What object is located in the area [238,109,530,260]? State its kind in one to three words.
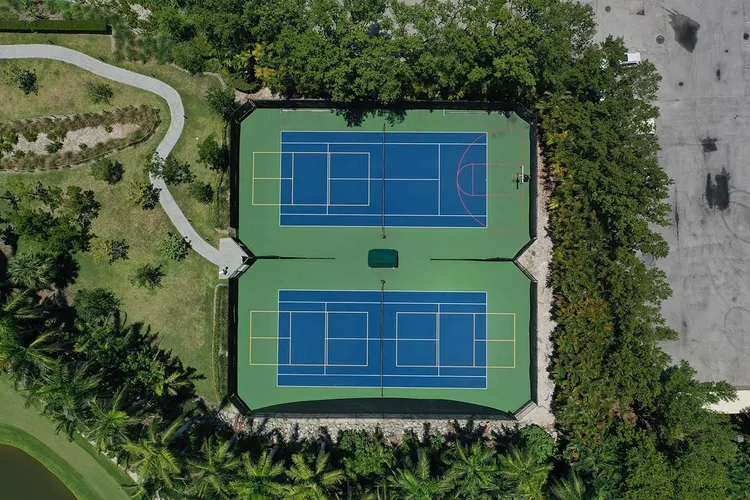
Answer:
tennis court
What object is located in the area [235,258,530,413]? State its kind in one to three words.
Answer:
tennis court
